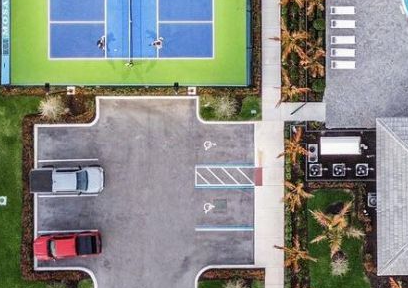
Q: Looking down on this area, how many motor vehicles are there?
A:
two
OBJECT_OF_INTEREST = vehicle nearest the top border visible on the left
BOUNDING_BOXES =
[30,166,105,197]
